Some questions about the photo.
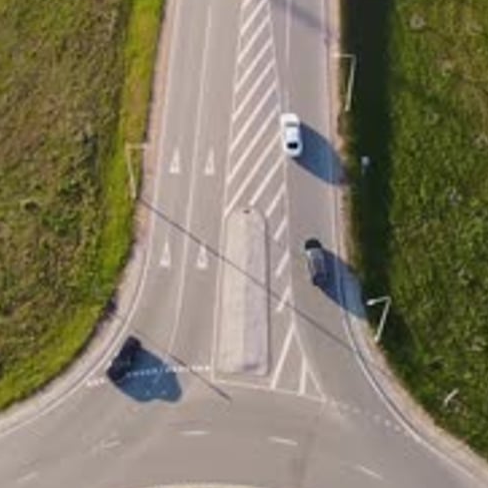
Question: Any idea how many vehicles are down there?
three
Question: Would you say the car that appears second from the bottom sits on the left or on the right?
right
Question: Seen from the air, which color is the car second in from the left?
white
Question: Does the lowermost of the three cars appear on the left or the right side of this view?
left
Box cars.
[103,334,144,390]
[304,241,331,290]
[279,117,302,157]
